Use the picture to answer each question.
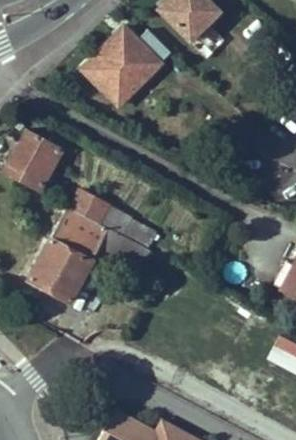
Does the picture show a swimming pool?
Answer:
Yes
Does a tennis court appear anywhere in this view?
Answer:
No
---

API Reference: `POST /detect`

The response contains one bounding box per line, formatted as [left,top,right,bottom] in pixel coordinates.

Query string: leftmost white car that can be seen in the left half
[72,294,87,314]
